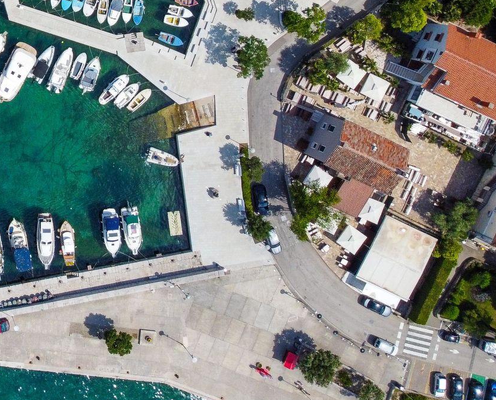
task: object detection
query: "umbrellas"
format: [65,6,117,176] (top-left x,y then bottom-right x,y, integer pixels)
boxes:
[303,165,333,189]
[360,74,390,101]
[337,61,366,88]
[321,218,338,235]
[358,198,385,221]
[337,224,366,254]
